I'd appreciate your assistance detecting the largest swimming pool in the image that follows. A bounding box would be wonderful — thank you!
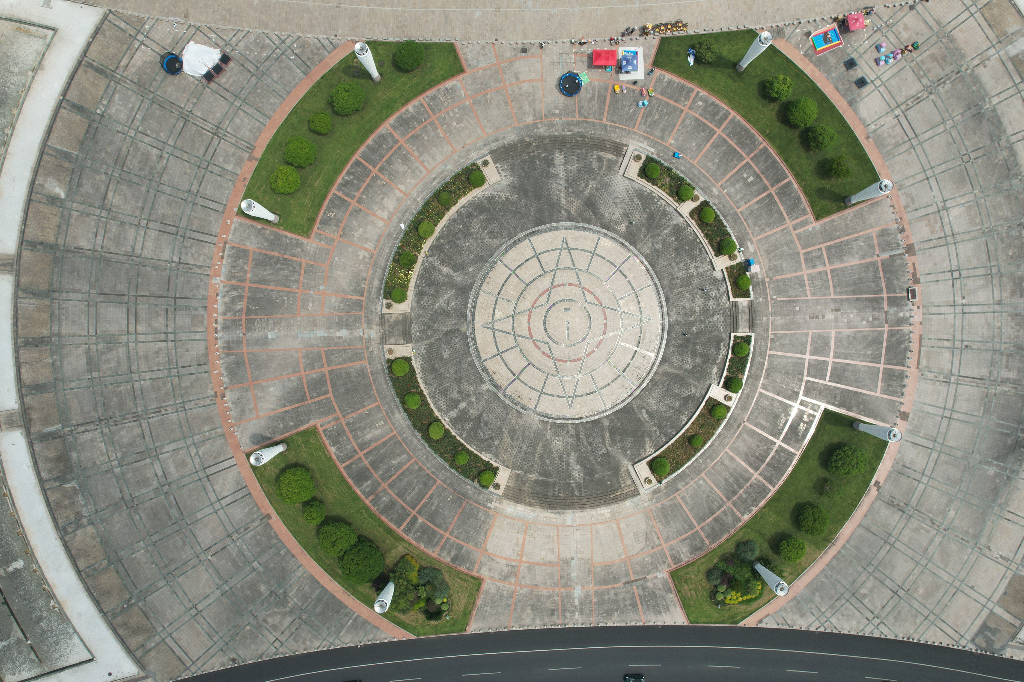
[812,28,840,51]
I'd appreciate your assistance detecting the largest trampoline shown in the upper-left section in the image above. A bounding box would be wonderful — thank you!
[159,52,182,75]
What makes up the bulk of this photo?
paved ground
